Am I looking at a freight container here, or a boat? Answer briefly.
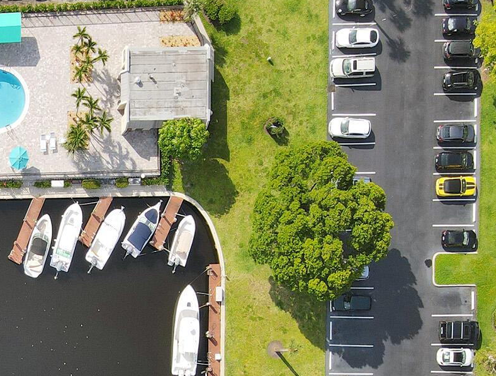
boat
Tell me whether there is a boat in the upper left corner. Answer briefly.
No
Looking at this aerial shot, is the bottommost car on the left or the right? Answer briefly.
right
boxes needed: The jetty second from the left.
[81,196,113,247]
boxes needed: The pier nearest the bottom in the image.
[208,264,221,376]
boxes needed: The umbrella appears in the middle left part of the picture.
[8,148,28,168]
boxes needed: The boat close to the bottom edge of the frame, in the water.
[170,285,202,376]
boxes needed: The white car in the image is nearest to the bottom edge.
[435,348,474,368]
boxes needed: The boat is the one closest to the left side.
[21,214,54,283]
